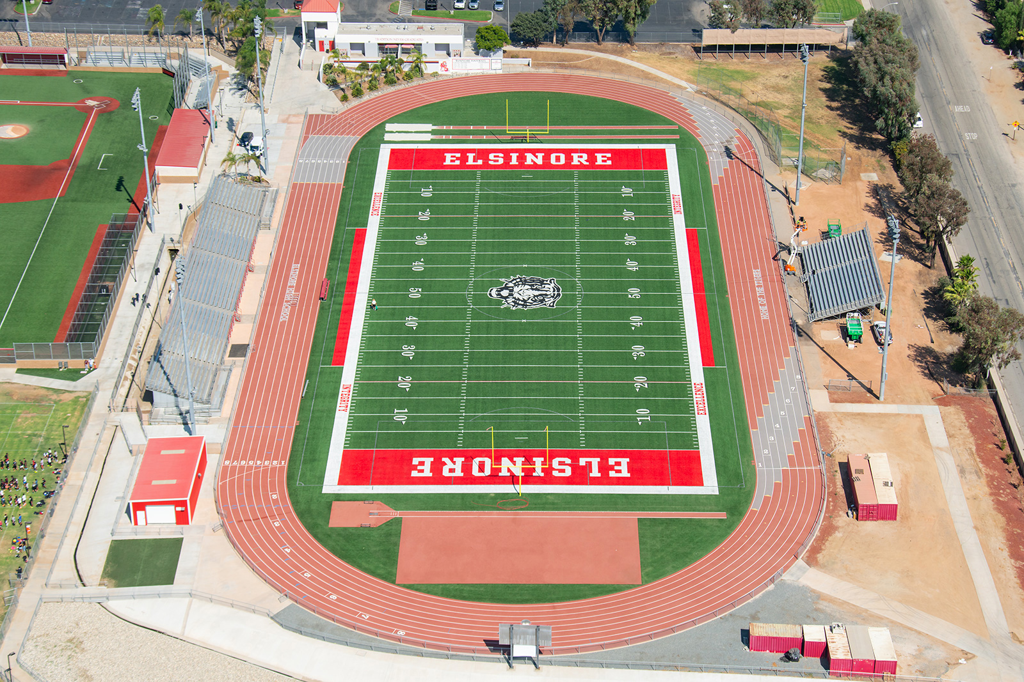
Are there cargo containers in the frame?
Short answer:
Yes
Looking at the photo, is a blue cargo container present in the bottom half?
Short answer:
No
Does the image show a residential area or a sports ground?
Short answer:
sports ground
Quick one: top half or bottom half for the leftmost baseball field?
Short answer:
top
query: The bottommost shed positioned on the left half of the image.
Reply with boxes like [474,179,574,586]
[129,436,208,525]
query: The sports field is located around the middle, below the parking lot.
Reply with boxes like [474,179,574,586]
[287,91,754,603]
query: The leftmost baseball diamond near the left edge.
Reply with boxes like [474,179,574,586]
[0,67,175,354]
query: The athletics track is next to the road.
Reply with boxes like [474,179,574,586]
[213,71,829,652]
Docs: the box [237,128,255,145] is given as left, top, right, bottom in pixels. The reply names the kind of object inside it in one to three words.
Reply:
car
